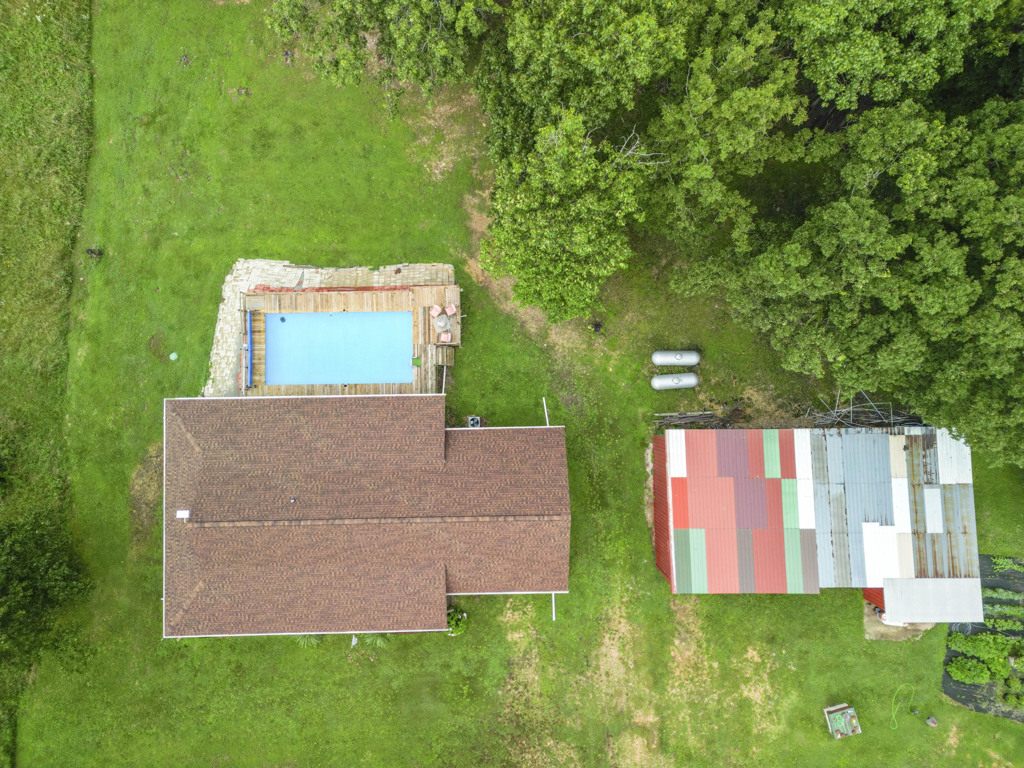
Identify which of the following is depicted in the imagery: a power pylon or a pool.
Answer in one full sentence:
Of the two, only a pool appears.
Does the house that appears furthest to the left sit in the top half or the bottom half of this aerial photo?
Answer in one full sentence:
It is in the bottom half that the house that appears furthest to the left appears.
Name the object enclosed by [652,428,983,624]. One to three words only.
barn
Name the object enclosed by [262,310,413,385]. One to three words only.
swimming pool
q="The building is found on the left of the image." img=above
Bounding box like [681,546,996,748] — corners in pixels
[162,392,570,639]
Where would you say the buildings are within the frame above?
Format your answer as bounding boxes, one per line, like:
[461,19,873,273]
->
[652,428,983,624]
[162,392,570,639]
